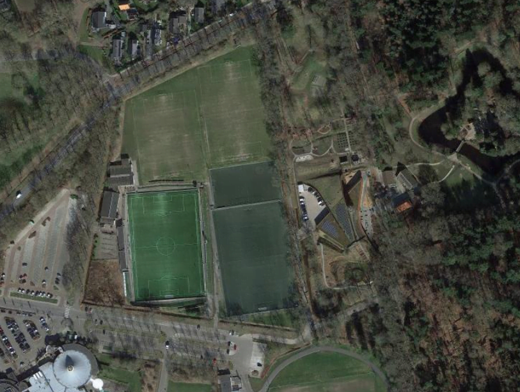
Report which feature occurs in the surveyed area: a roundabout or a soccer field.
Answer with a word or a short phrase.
soccer field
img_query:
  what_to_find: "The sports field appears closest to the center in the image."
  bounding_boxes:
[210,162,280,207]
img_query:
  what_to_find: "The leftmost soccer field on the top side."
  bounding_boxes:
[123,72,208,183]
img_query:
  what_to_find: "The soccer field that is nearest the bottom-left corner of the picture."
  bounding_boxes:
[126,189,207,303]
